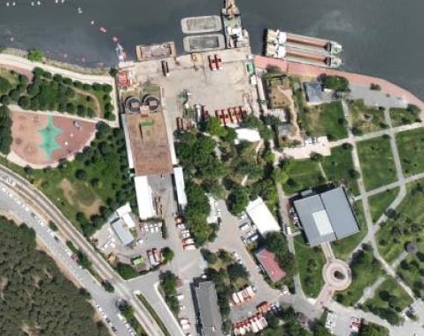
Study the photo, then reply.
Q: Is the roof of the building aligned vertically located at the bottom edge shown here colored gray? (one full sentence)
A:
Yes, the roof of the building aligned vertically located at the bottom edge is gray.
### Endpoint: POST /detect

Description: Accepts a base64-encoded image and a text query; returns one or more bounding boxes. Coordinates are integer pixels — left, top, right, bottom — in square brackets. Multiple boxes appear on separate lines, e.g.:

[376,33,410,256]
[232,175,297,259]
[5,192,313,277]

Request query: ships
[264,29,342,53]
[136,41,176,61]
[180,16,223,34]
[263,44,342,66]
[221,0,251,48]
[182,33,225,53]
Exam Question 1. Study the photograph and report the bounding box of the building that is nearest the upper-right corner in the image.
[303,81,324,102]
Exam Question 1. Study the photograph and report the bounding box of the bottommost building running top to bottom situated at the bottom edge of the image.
[196,277,225,336]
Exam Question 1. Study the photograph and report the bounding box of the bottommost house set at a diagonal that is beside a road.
[254,248,286,282]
